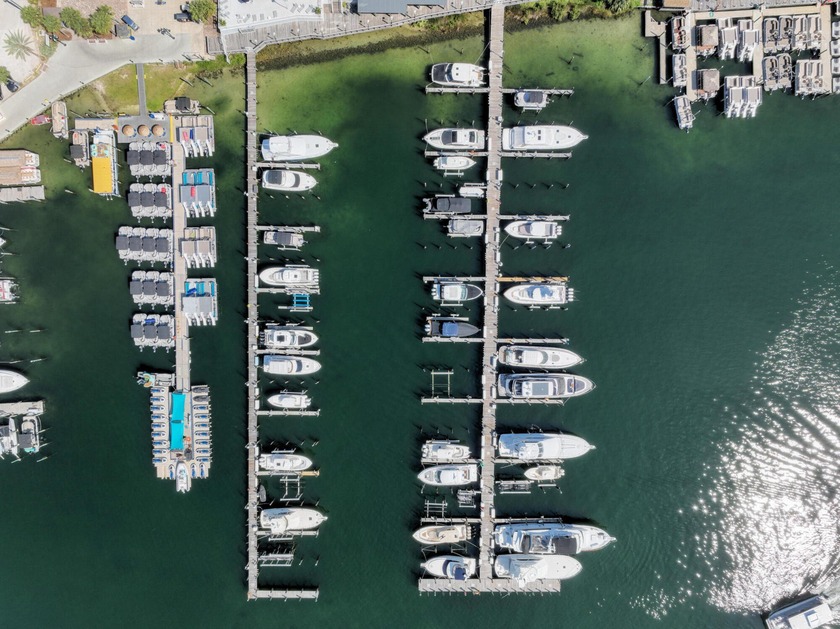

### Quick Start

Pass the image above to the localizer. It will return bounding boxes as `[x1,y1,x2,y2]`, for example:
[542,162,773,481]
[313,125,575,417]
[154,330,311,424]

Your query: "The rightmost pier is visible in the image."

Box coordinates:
[418,6,574,595]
